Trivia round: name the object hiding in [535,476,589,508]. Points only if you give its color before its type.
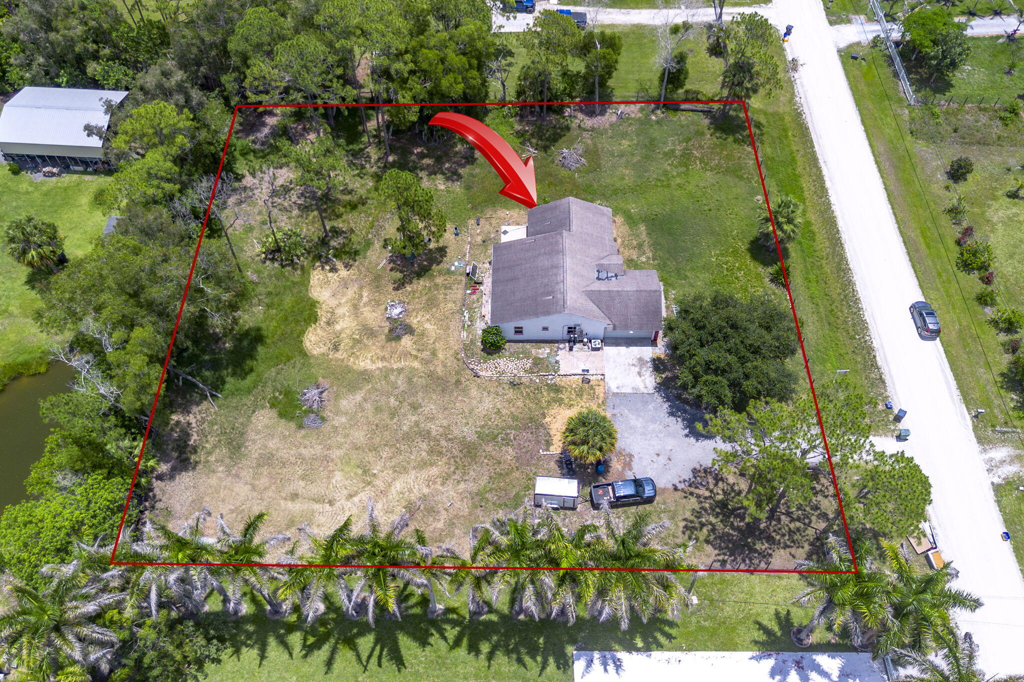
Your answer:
white trailer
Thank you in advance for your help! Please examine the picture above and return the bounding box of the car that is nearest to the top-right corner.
[909,298,940,335]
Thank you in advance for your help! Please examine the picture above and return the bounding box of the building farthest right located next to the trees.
[490,196,662,340]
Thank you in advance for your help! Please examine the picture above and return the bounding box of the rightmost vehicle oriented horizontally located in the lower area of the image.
[588,477,657,509]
